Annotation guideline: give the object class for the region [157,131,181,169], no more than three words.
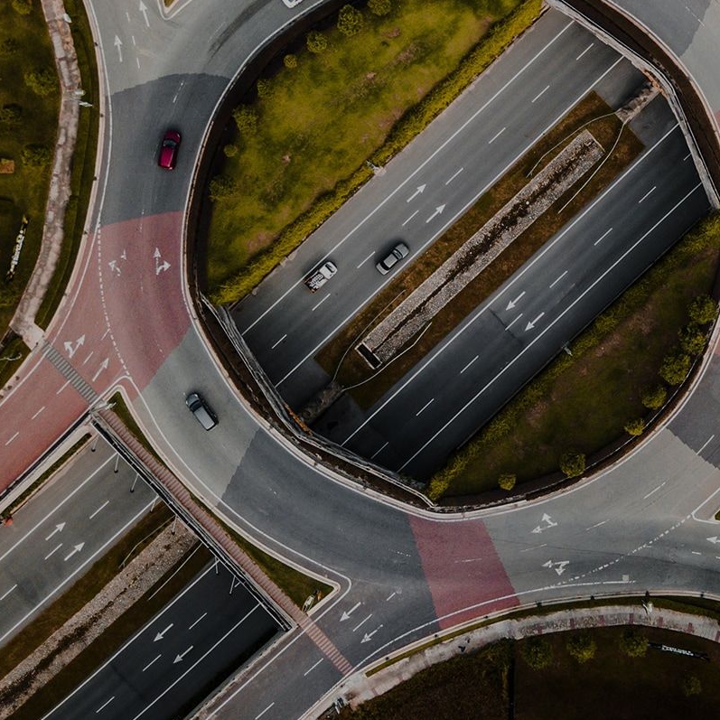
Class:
car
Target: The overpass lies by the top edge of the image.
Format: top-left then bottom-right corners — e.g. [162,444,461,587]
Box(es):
[544,0,720,214]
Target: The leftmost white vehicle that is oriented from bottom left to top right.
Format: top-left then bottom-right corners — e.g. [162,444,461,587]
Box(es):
[303,260,338,293]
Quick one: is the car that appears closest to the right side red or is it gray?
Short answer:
gray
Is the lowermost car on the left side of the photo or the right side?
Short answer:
left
